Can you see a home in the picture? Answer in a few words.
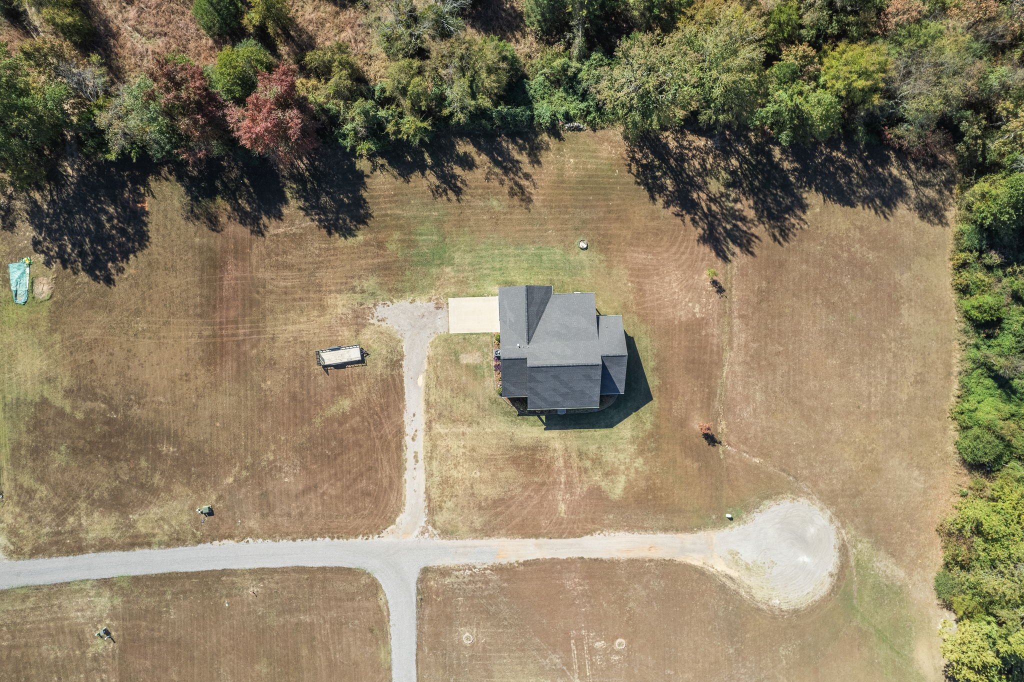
Yes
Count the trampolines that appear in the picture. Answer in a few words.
zero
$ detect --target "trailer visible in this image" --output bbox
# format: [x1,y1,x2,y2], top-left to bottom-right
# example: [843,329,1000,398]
[315,345,372,367]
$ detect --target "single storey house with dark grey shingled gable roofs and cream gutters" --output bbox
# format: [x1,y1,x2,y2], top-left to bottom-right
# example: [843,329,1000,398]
[498,285,627,411]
